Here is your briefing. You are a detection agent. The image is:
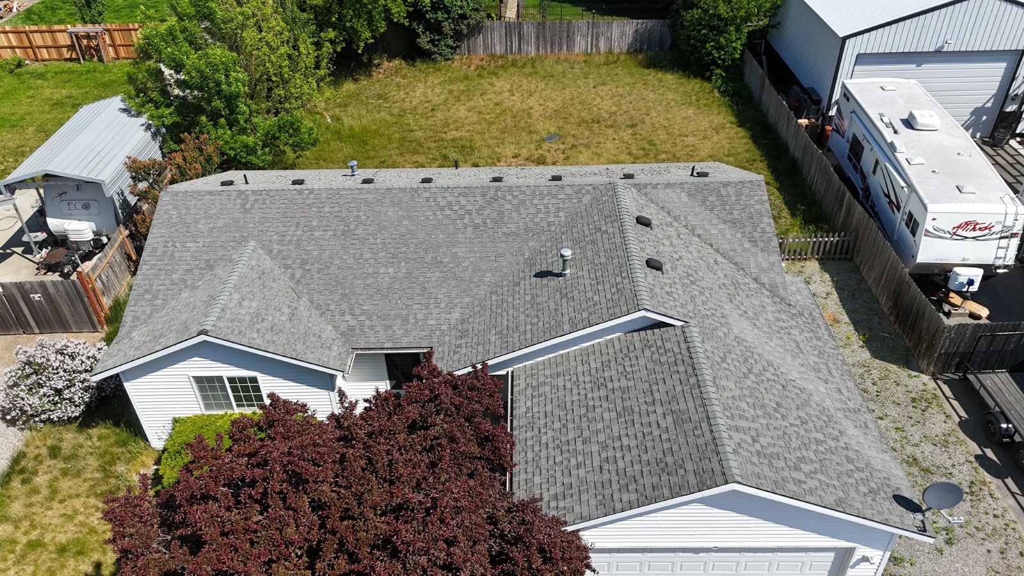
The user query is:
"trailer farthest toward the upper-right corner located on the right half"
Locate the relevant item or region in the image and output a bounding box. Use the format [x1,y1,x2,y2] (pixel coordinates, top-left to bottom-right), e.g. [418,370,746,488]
[833,84,1021,302]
